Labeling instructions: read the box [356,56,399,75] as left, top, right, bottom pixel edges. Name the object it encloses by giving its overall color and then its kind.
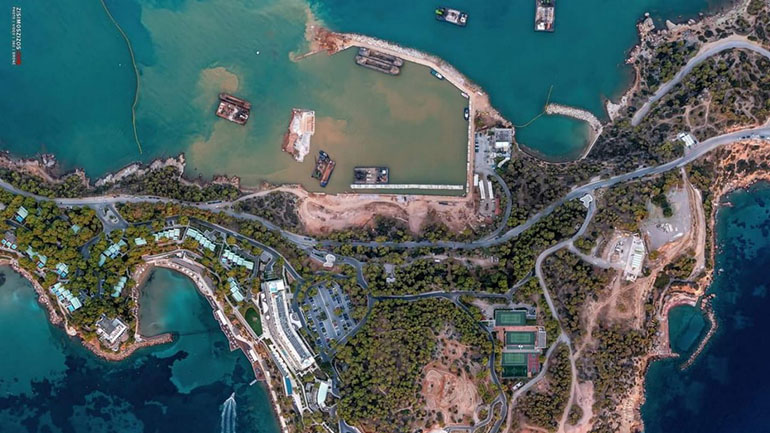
gray ship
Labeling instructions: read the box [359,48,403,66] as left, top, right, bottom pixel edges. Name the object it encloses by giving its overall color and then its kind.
gray ship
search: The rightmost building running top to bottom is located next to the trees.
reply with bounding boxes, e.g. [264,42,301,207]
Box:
[624,236,646,278]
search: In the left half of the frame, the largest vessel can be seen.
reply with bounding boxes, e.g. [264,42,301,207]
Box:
[283,110,315,162]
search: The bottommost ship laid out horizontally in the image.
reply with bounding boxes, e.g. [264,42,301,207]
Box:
[355,168,389,183]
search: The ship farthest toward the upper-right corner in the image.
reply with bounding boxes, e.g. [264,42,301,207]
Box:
[535,0,555,31]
